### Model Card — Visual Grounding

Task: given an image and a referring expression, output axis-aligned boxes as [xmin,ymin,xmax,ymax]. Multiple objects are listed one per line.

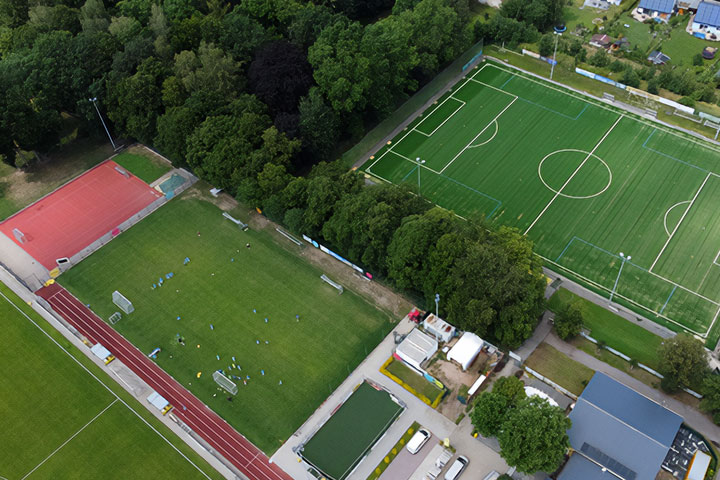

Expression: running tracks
[35,283,295,480]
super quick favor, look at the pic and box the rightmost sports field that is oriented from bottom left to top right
[303,375,404,480]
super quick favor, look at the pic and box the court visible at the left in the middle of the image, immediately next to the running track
[0,157,165,271]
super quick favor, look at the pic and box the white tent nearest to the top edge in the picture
[445,332,485,373]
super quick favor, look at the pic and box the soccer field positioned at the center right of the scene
[356,59,720,354]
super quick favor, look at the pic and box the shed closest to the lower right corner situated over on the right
[682,450,713,480]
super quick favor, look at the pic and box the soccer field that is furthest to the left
[0,280,226,480]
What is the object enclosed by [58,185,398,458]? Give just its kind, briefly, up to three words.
sports field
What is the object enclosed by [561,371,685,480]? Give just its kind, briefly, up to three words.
building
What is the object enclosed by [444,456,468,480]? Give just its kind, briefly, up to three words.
car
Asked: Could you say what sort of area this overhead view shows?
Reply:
sports ground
